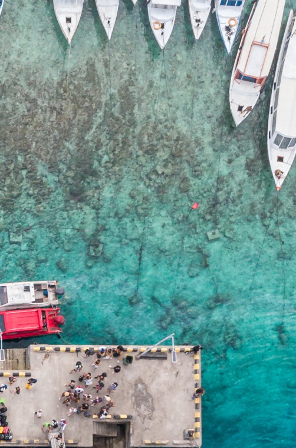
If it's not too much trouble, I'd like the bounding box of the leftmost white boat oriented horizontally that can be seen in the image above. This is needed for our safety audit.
[0,279,66,310]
